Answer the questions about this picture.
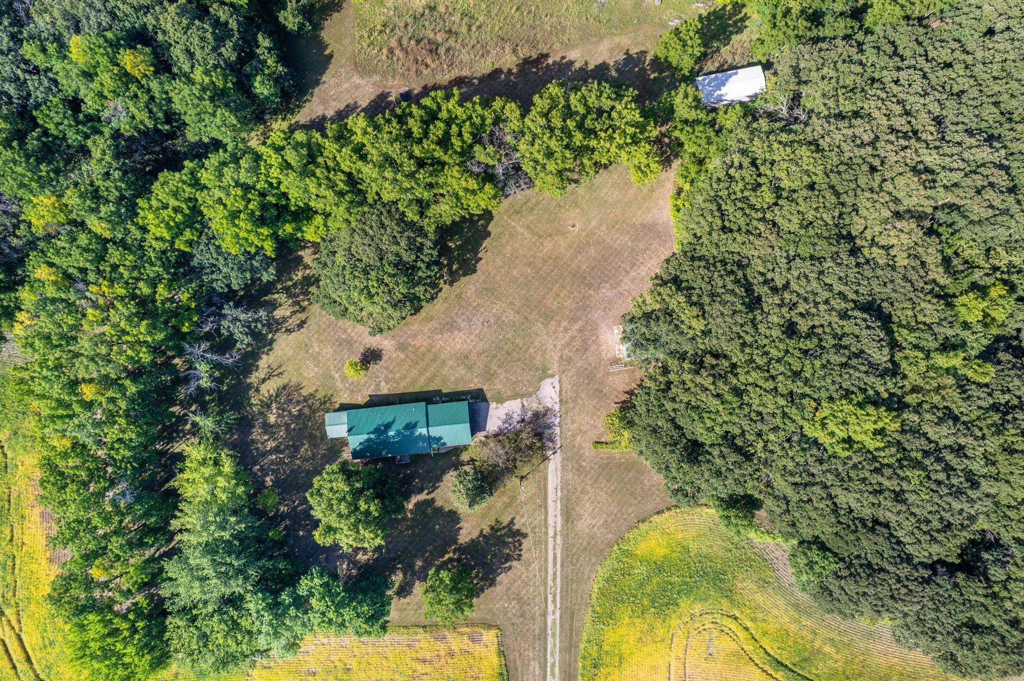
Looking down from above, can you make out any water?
No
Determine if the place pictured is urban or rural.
rural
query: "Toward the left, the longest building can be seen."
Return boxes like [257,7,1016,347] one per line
[325,400,472,461]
